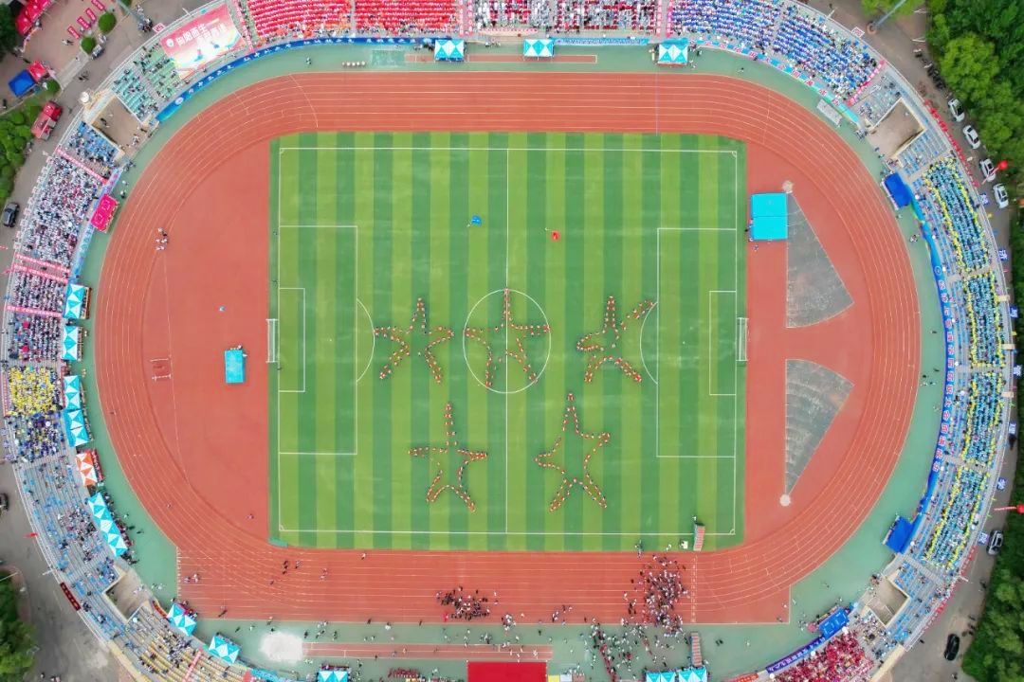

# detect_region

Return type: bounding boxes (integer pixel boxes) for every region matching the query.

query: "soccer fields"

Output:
[271,131,746,550]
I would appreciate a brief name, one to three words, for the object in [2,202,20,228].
car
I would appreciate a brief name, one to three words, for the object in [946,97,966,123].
car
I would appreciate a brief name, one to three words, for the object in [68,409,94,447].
tent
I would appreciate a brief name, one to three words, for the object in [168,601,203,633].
tent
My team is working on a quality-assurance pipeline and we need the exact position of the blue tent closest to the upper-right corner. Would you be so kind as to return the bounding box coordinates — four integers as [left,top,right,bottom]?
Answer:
[881,173,911,208]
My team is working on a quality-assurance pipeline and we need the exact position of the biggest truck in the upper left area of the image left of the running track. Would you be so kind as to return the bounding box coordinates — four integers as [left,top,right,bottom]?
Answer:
[27,99,65,141]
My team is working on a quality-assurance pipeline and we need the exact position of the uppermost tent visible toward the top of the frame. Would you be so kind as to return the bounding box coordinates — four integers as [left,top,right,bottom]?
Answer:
[15,0,55,37]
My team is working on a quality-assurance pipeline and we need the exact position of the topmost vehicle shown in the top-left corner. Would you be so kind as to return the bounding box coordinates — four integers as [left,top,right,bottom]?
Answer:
[91,45,108,60]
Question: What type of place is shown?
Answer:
sports ground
